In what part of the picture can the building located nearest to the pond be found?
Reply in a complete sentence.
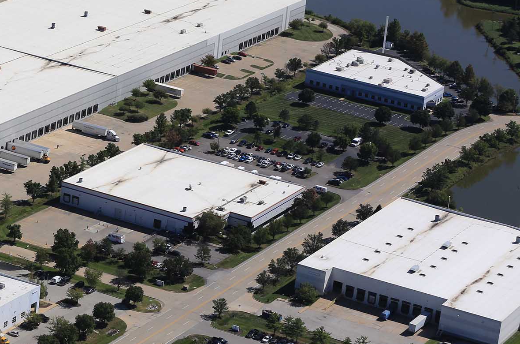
The building located nearest to the pond is located in the bottom right region of the scene.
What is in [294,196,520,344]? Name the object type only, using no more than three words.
building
